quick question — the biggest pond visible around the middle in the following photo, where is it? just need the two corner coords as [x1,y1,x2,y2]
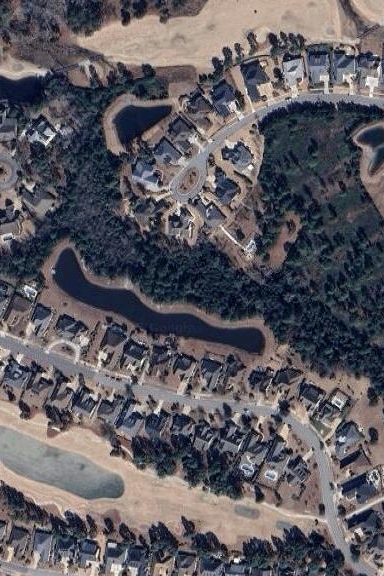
[50,244,267,357]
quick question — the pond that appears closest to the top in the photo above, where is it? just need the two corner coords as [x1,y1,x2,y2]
[0,71,48,109]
